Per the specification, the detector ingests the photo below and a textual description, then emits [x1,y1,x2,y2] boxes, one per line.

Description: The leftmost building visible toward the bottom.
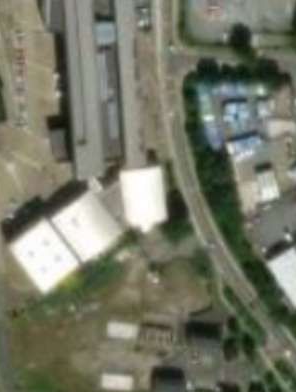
[9,216,81,292]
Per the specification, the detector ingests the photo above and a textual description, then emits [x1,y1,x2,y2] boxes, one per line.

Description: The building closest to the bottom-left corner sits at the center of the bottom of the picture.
[102,374,133,388]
